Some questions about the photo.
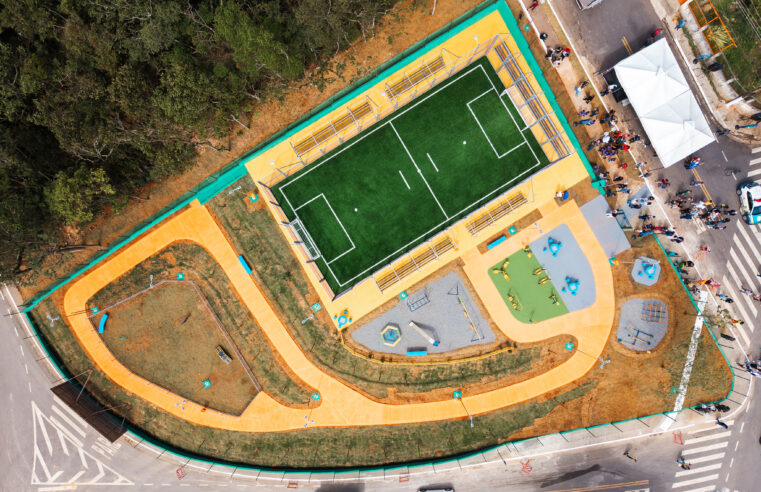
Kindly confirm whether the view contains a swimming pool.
No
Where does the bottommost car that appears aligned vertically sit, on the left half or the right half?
right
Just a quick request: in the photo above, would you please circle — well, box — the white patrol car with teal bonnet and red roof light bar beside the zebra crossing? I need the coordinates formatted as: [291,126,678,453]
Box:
[739,179,761,223]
